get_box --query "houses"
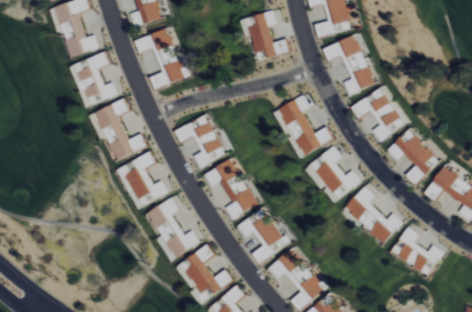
[237,10,293,62]
[264,242,329,312]
[310,286,360,312]
[385,128,446,186]
[348,82,414,144]
[145,194,206,260]
[169,112,234,170]
[68,52,122,106]
[171,246,232,304]
[318,30,382,98]
[200,152,266,222]
[234,203,293,264]
[272,92,336,158]
[130,23,192,90]
[424,158,472,224]
[206,282,258,312]
[341,182,408,243]
[46,0,100,58]
[391,223,448,276]
[116,150,173,206]
[87,100,146,162]
[305,144,366,203]
[124,0,170,26]
[305,0,362,36]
